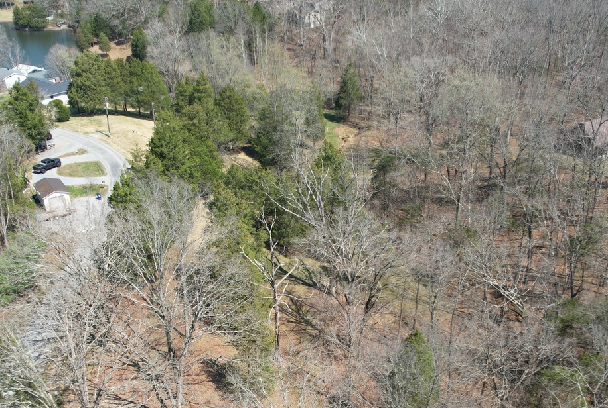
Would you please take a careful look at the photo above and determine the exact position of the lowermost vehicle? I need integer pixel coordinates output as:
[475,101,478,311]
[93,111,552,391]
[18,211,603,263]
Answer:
[26,153,66,172]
